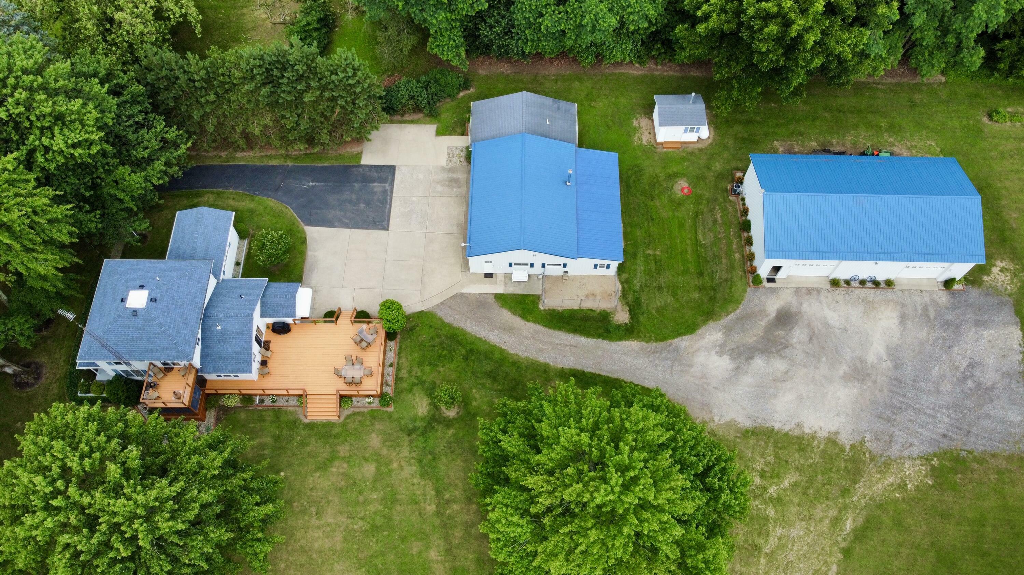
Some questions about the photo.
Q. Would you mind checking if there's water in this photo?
No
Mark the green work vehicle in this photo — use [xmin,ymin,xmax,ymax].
[862,142,895,156]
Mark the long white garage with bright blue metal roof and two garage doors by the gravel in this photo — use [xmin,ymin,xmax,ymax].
[743,153,985,283]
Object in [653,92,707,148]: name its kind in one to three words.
shed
